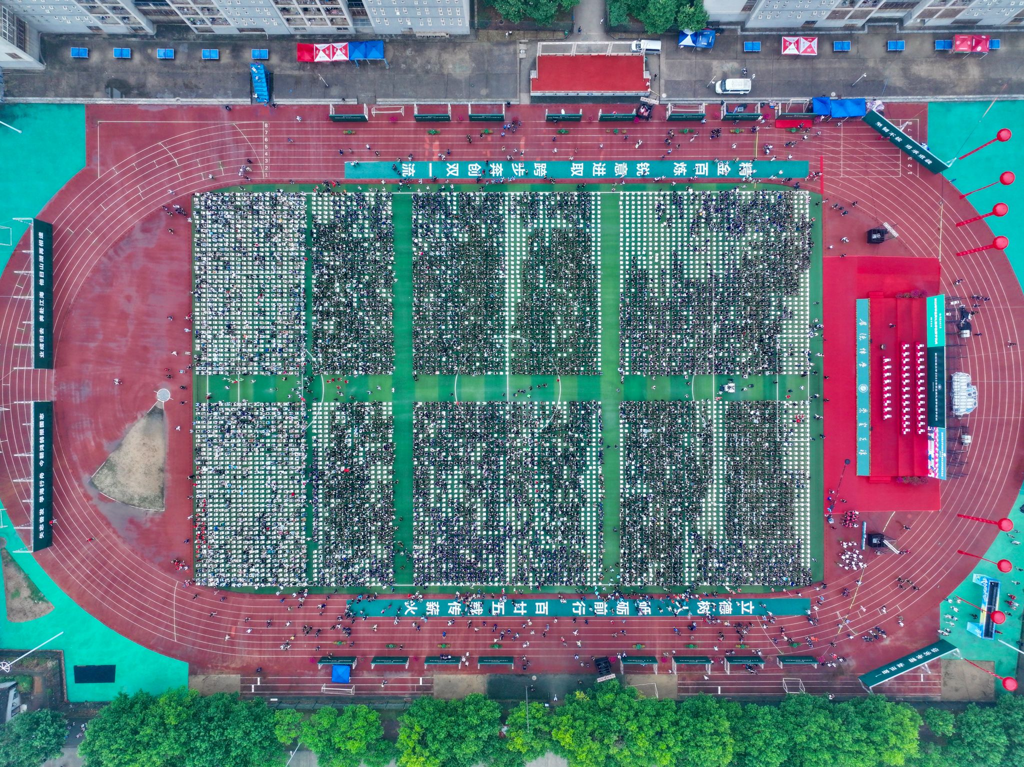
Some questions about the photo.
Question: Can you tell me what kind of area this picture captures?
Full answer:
This looks like a sports ground.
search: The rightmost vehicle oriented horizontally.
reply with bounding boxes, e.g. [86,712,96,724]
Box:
[716,78,752,94]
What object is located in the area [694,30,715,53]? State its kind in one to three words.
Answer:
tent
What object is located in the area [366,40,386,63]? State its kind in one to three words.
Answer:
tent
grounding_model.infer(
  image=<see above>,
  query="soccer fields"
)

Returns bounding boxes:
[191,184,823,594]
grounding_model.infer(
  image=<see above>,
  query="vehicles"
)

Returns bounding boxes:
[716,78,752,94]
[631,40,661,56]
